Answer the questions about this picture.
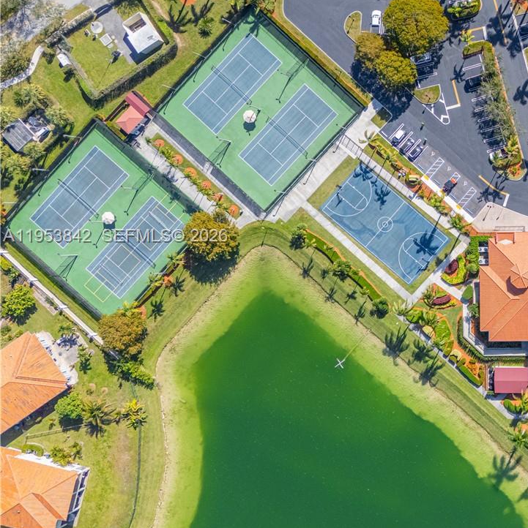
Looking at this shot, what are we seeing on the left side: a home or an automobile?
home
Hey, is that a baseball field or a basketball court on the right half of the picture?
basketball court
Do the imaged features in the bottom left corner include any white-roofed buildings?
No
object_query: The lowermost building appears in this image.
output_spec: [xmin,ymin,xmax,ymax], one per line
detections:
[0,451,96,528]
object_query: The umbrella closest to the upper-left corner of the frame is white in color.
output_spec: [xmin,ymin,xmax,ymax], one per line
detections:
[103,210,120,224]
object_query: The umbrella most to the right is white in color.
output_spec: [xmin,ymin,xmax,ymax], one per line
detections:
[243,110,259,123]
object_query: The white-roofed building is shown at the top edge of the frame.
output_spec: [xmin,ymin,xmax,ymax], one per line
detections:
[122,11,168,53]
